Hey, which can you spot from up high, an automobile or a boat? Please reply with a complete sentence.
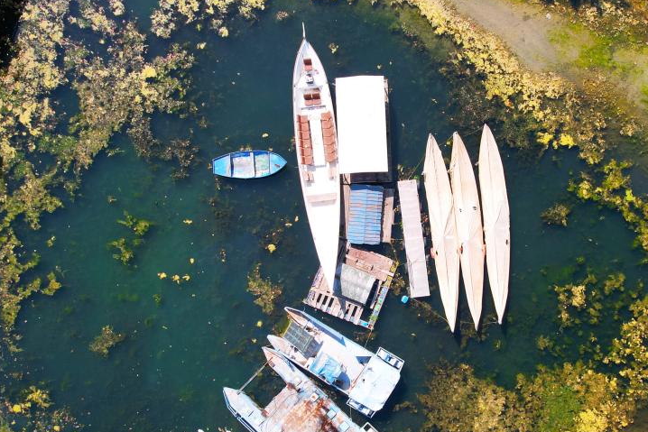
The image shows a boat.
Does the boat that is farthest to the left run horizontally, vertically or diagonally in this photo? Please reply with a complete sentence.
Seen from above, the boat that is farthest to the left lies horizontally.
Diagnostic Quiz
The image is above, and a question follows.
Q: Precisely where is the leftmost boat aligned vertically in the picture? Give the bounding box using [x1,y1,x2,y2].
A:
[292,24,340,291]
